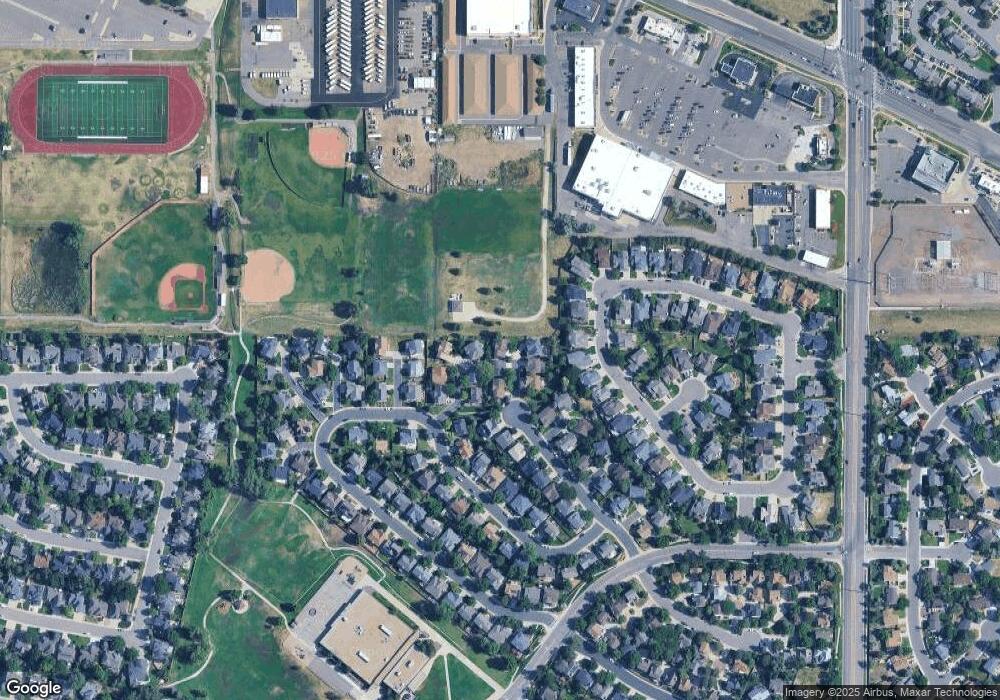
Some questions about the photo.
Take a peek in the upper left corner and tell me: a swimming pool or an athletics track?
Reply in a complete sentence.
The feature located in the upper left corner is an athletics track.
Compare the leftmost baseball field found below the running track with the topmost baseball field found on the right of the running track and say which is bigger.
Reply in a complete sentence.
The larger object is the leftmost baseball field found below the running track, with the topmost baseball field found on the right of the running track being the smaller of the pair.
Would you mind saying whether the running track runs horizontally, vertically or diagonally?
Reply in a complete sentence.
In this picture, the running track lies horizontally.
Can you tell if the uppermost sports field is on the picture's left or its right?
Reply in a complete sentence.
The uppermost sports field is on the left side of the image.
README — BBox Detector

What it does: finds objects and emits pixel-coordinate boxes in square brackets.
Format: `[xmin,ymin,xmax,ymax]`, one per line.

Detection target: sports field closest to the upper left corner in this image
[37,75,169,144]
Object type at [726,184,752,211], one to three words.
building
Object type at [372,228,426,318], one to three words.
soccer field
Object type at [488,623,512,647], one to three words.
house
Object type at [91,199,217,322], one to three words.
baseball field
